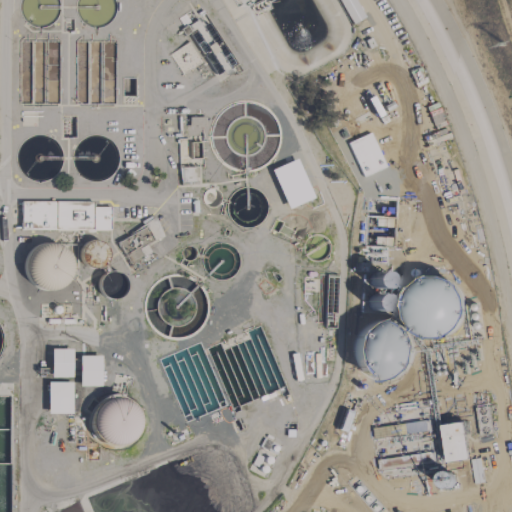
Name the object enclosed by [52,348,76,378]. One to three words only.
shed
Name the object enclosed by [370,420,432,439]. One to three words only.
building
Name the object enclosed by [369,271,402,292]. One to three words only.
silo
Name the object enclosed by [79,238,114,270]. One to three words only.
storage tank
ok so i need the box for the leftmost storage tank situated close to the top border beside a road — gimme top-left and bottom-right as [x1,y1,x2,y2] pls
[20,0,70,32]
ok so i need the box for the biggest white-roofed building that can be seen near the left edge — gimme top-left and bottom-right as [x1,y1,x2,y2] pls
[22,200,112,230]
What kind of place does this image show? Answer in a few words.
industrial area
